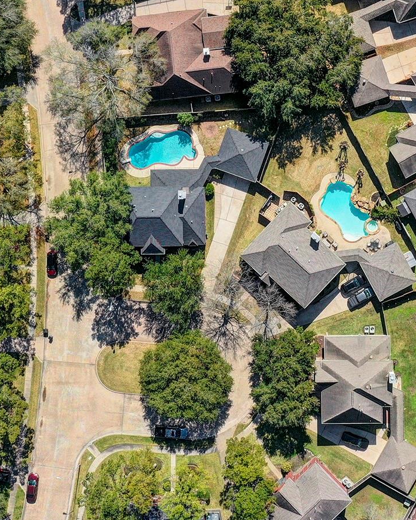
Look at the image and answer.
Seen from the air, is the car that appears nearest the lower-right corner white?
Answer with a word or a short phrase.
No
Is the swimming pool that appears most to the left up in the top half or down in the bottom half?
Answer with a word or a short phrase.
top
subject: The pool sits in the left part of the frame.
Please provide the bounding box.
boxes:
[127,128,199,171]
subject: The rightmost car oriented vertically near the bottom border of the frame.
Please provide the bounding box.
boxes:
[24,470,40,504]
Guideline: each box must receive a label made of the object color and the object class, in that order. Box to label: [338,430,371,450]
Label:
black car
